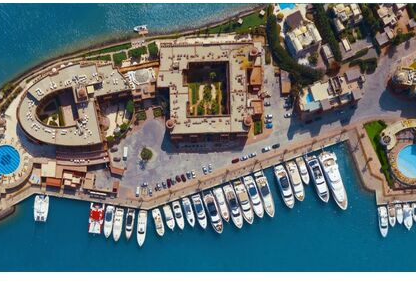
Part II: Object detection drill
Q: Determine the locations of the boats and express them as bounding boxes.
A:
[305,151,329,202]
[402,200,413,229]
[234,176,253,224]
[255,166,274,217]
[395,199,403,224]
[223,179,242,228]
[135,26,148,32]
[104,202,116,238]
[202,186,222,233]
[126,204,136,239]
[377,201,389,237]
[321,146,349,209]
[114,204,125,241]
[137,206,149,246]
[275,161,294,208]
[297,153,309,184]
[214,182,229,221]
[387,201,396,226]
[192,189,207,228]
[164,201,175,230]
[35,196,50,222]
[153,204,164,236]
[174,197,184,229]
[245,171,263,217]
[183,193,195,226]
[89,202,104,233]
[286,156,304,201]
